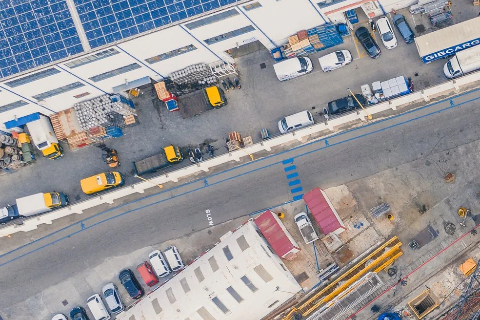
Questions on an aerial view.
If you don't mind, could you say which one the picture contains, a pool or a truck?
truck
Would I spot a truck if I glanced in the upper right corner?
Yes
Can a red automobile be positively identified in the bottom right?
No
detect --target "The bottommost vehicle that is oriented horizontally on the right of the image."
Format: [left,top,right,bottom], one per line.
[281,110,319,134]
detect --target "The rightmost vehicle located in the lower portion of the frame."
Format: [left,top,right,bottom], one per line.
[298,210,322,246]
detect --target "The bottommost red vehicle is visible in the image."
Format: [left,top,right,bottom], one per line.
[137,260,161,288]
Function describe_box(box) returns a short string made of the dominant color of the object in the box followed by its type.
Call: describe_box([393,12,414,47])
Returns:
blue car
